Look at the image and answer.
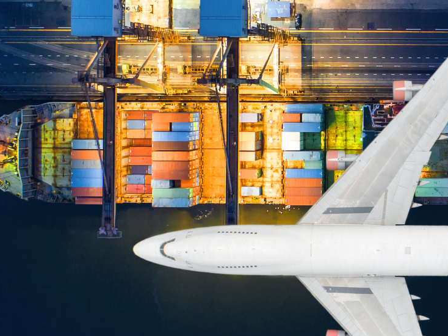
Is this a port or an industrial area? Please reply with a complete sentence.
The picture captures a port.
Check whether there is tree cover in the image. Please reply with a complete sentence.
No, the scene doesn't show any tree cover.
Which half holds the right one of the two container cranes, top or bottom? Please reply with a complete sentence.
Seen from above, the right one of the two container cranes lies in the top half of the view.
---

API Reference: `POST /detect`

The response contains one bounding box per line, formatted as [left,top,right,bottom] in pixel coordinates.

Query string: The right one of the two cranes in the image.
[192,0,321,226]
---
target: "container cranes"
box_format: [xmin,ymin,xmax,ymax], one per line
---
[69,0,208,236]
[192,0,321,226]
